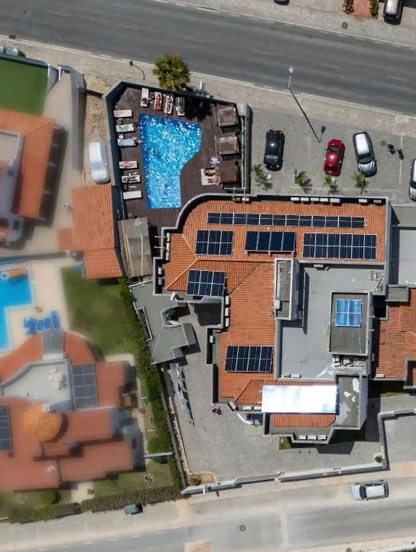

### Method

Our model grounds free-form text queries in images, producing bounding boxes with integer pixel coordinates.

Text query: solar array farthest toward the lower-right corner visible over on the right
[262,385,338,412]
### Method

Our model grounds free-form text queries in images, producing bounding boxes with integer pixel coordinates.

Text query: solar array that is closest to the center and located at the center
[187,270,227,293]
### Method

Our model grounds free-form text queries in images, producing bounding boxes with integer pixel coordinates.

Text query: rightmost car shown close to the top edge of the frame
[383,0,404,28]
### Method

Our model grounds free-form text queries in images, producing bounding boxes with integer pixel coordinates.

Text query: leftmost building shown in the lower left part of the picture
[0,331,154,490]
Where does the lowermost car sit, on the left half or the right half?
right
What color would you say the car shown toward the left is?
white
